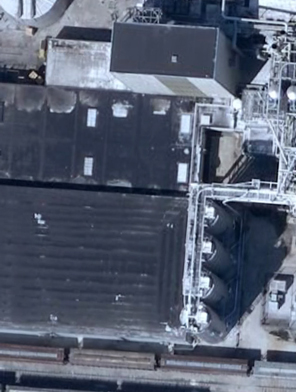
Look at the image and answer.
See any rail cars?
Yes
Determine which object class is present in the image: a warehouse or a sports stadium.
warehouse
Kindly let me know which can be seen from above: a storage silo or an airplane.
storage silo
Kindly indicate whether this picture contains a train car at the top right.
No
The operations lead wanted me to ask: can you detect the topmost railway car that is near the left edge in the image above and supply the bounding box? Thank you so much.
[0,343,67,364]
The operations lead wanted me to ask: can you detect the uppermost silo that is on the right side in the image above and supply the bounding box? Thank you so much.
[198,203,237,240]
